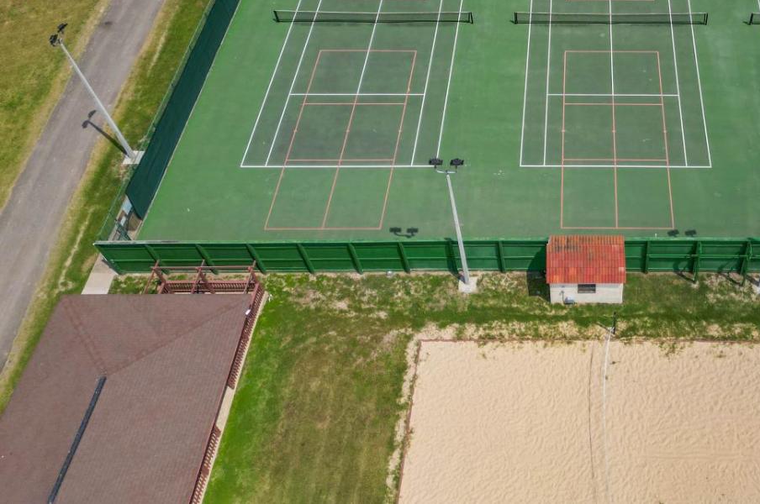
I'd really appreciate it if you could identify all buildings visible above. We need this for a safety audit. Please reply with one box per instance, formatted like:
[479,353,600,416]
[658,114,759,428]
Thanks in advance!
[0,263,269,504]
[545,230,628,303]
